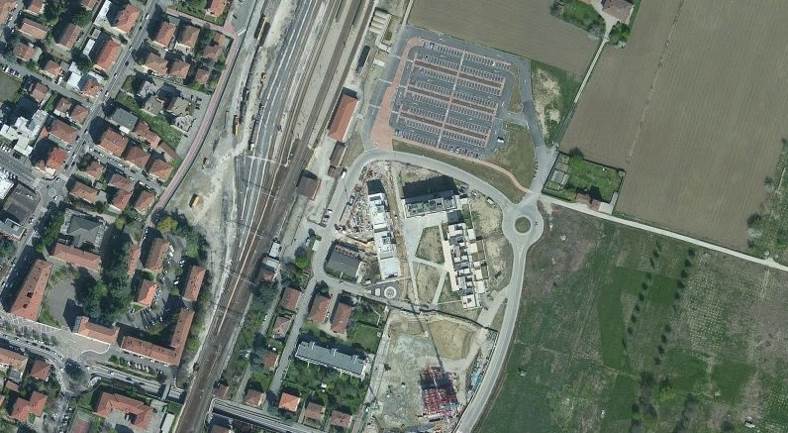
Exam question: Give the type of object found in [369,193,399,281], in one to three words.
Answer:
building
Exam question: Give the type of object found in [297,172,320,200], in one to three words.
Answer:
shed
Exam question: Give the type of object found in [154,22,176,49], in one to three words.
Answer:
house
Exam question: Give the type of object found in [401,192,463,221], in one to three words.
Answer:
building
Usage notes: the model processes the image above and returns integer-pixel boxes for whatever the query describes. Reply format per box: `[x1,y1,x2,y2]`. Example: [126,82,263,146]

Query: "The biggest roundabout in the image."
[503,205,542,244]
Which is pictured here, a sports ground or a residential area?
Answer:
residential area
